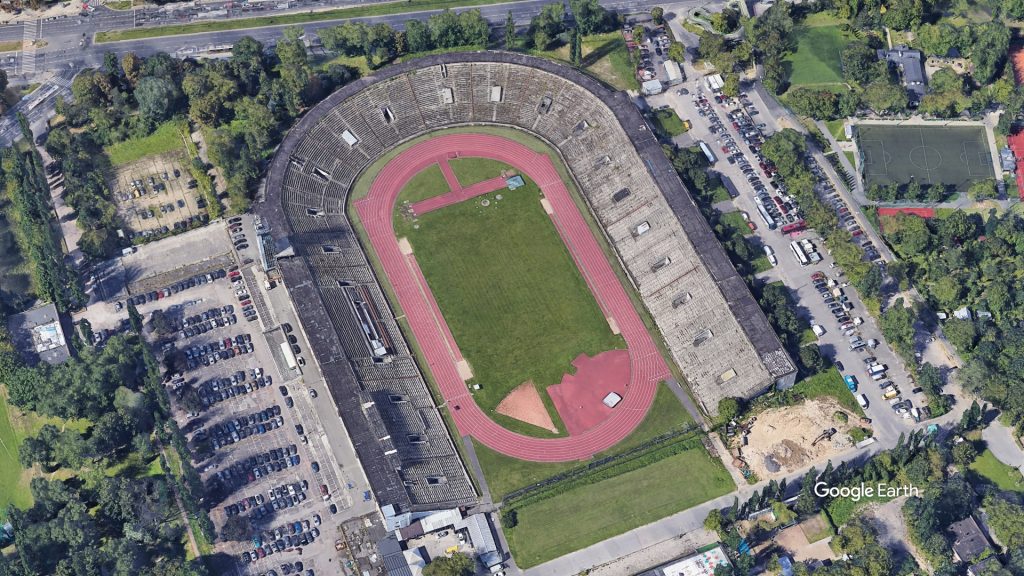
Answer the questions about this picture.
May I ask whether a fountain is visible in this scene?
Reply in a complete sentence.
No, there isn't any fountain down there.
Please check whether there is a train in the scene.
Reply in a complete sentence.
Yes, there is a train in the image.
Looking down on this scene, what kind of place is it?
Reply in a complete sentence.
The picture captures a sports ground.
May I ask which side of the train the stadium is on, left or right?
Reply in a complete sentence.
The stadium can be seen on the right of the train.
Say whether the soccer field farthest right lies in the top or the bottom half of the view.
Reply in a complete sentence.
The top half of the photo is where the soccer field farthest right is.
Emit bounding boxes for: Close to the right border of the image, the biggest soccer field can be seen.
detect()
[855,124,1001,193]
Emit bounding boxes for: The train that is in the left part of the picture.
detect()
[28,86,60,111]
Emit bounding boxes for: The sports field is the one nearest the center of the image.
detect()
[393,156,632,437]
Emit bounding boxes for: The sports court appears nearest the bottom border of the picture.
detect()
[878,206,935,232]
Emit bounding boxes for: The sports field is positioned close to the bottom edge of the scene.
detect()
[506,446,737,569]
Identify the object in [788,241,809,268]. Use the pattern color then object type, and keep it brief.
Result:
white bus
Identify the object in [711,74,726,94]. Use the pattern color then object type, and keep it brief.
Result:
white vehicle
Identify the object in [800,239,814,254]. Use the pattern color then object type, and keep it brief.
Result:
white vehicle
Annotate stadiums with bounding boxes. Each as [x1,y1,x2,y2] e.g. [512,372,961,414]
[256,47,800,515]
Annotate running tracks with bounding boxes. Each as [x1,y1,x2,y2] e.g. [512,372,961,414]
[353,134,708,502]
